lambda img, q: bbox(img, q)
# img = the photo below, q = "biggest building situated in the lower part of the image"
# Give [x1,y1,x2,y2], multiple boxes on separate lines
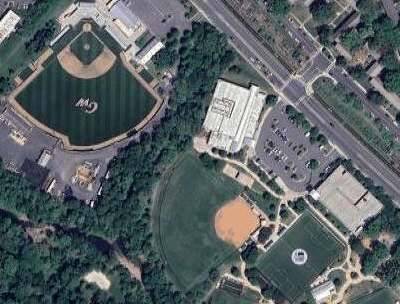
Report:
[316,165,382,233]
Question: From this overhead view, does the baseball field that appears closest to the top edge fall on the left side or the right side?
left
